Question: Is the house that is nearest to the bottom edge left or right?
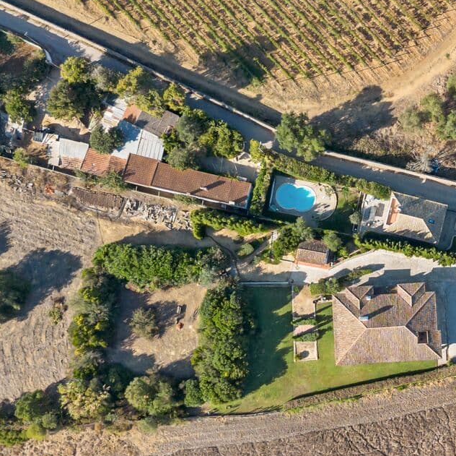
right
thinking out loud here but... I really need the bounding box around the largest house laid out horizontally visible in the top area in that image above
[123,154,254,210]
